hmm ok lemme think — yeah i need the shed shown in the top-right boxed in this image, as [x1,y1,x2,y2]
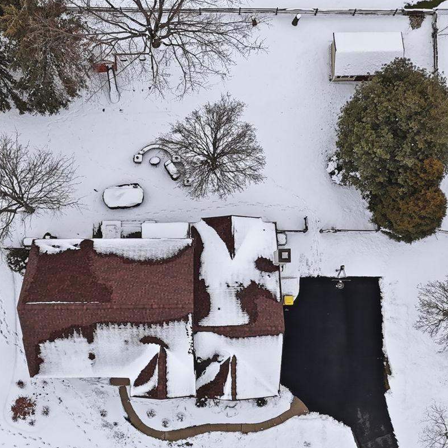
[327,33,405,81]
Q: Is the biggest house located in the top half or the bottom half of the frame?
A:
bottom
